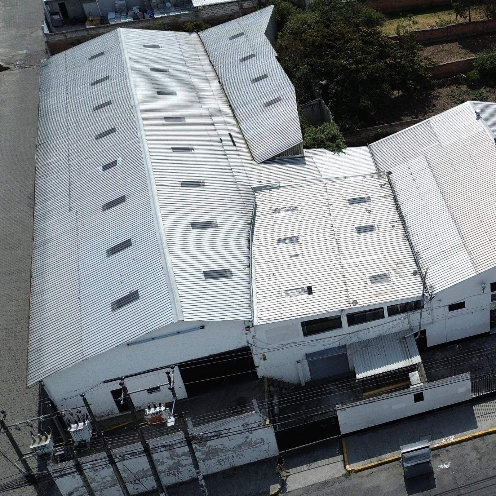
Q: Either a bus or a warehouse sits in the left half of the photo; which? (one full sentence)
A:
What appears in the left half of the photo is a warehouse.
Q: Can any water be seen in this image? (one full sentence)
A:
No, no water is visible.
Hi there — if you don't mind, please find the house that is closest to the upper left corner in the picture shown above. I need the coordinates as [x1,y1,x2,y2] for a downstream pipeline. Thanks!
[39,0,95,41]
